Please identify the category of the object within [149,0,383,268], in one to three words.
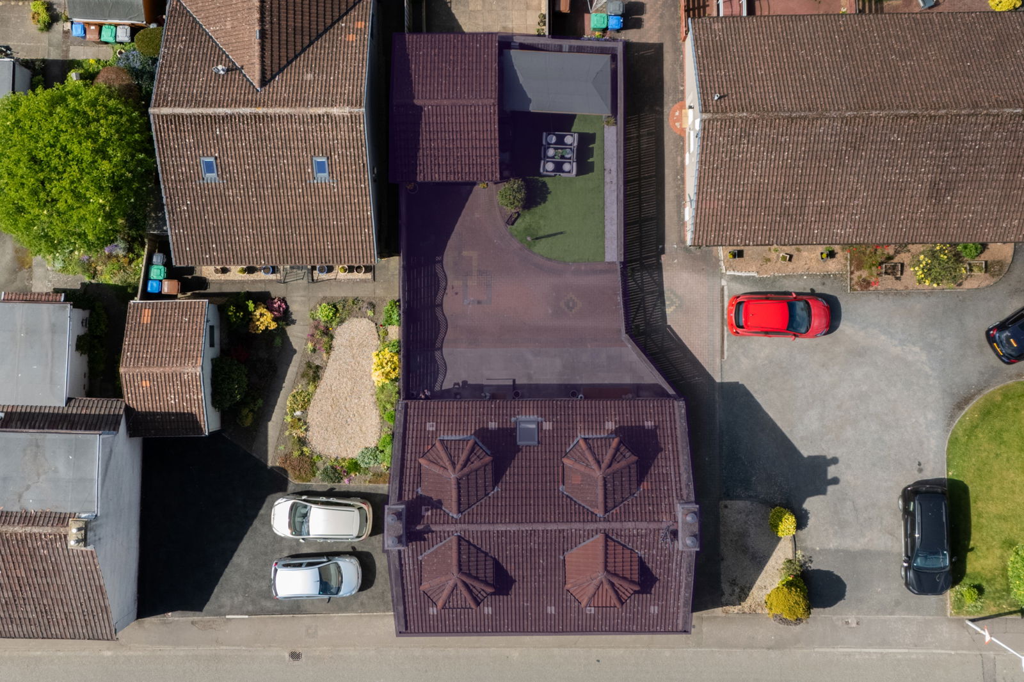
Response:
house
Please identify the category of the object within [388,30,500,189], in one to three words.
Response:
building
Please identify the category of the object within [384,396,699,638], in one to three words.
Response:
house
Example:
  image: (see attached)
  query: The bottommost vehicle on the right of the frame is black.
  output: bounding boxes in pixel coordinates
[902,484,961,598]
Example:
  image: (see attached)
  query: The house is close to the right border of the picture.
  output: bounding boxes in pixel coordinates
[685,10,1024,249]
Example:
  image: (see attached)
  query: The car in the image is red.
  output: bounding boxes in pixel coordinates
[730,288,834,341]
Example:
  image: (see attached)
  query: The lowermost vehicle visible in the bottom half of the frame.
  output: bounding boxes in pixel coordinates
[268,554,362,607]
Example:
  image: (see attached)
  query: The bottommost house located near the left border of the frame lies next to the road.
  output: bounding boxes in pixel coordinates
[0,396,141,643]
